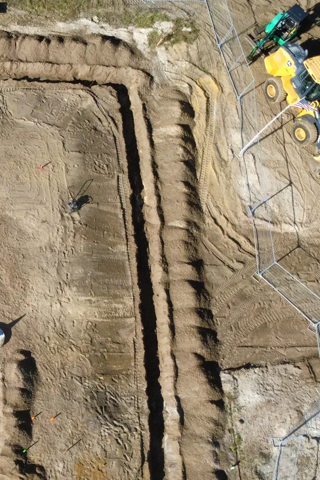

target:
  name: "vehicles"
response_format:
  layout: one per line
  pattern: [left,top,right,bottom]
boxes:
[255,43,320,178]
[244,3,314,60]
